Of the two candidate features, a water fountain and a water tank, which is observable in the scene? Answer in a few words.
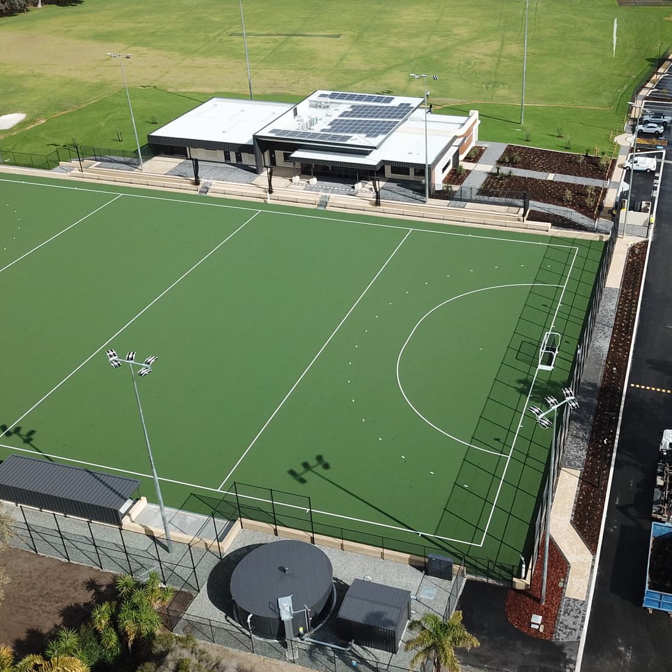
water tank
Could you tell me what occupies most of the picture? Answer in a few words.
grass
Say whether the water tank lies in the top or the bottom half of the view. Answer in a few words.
bottom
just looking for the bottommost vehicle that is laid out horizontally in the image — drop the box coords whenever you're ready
[627,154,662,171]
